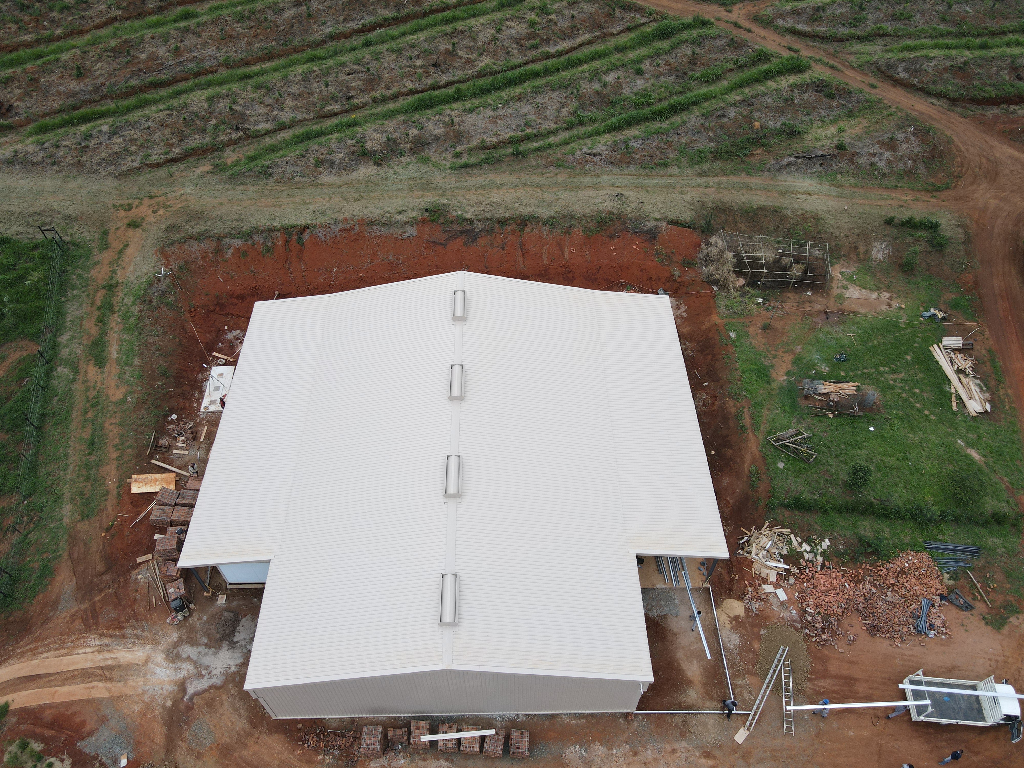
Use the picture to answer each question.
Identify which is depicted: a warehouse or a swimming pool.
warehouse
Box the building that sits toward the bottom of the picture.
[175,270,729,720]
